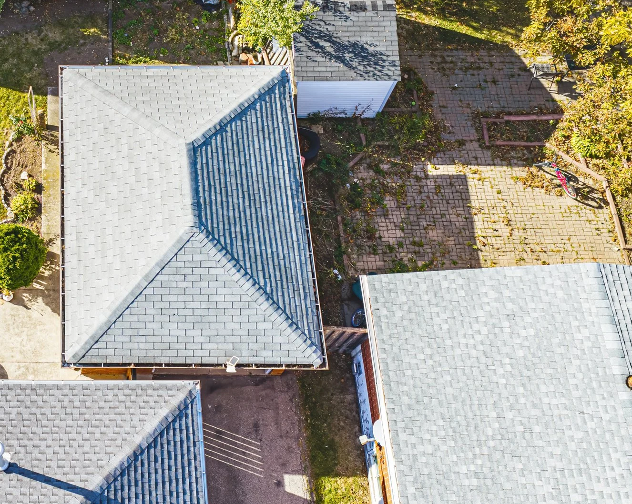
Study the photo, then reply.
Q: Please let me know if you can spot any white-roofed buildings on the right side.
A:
Yes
